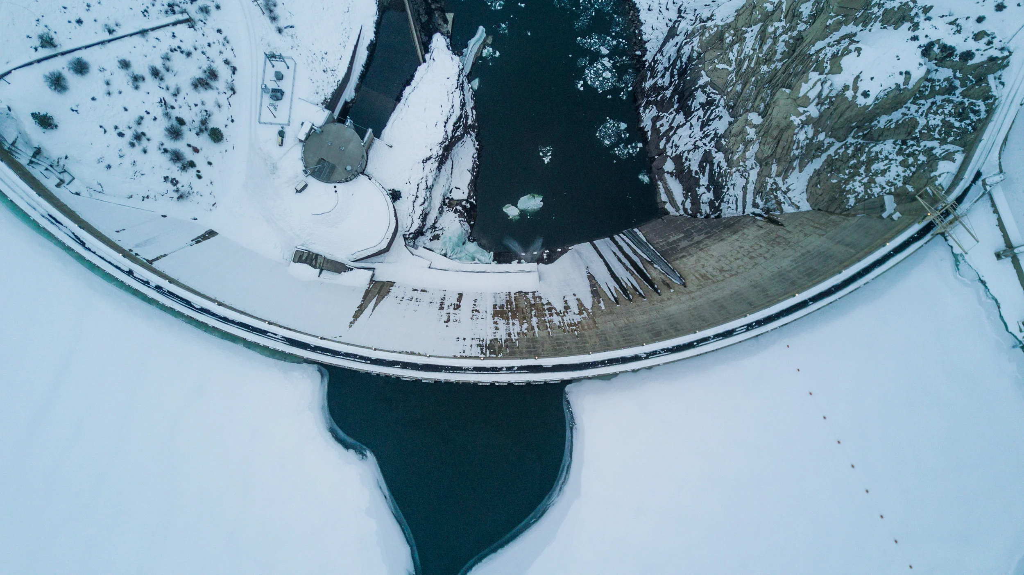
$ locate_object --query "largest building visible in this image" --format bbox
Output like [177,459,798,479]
[302,121,370,186]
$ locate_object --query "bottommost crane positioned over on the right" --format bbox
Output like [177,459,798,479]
[914,185,980,254]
